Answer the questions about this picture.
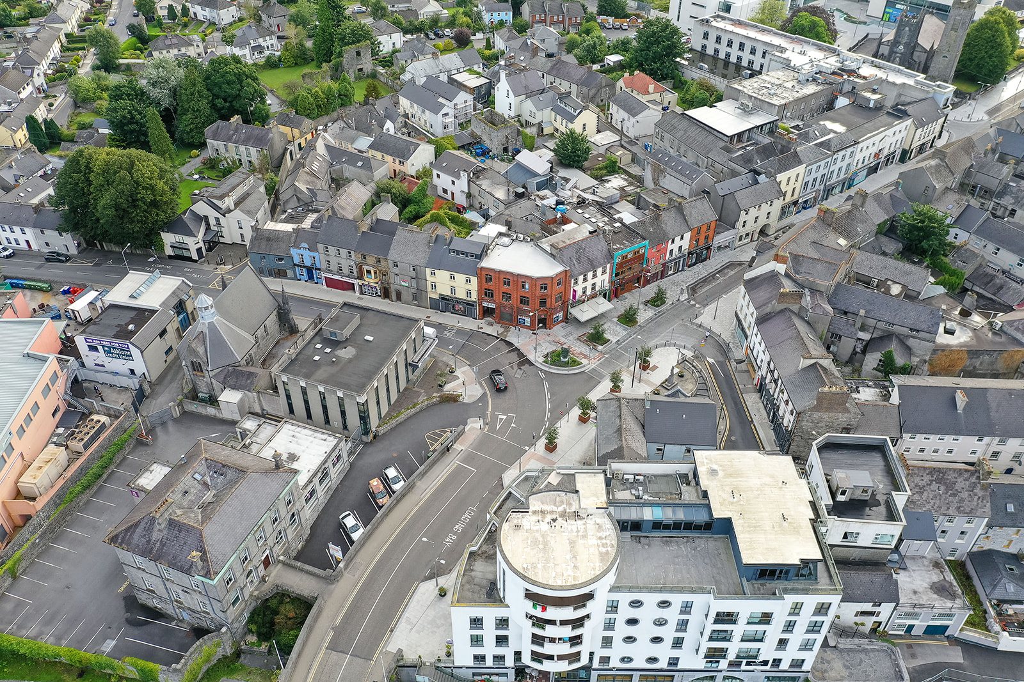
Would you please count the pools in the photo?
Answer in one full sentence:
No pools are visible.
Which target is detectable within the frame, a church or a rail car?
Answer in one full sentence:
Visible in the photo is a church.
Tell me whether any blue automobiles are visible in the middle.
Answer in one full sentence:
No, I see no blue automobile in the middle.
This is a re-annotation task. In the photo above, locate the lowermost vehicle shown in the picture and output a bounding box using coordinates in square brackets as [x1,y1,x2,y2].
[336,507,362,538]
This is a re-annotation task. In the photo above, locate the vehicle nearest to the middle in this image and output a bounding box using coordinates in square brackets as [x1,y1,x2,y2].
[489,366,509,389]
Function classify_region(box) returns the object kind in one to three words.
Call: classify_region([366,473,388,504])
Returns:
car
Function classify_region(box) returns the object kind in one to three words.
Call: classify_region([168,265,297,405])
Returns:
church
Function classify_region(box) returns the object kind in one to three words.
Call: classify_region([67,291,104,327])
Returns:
trailer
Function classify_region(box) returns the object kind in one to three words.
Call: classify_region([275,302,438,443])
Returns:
building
